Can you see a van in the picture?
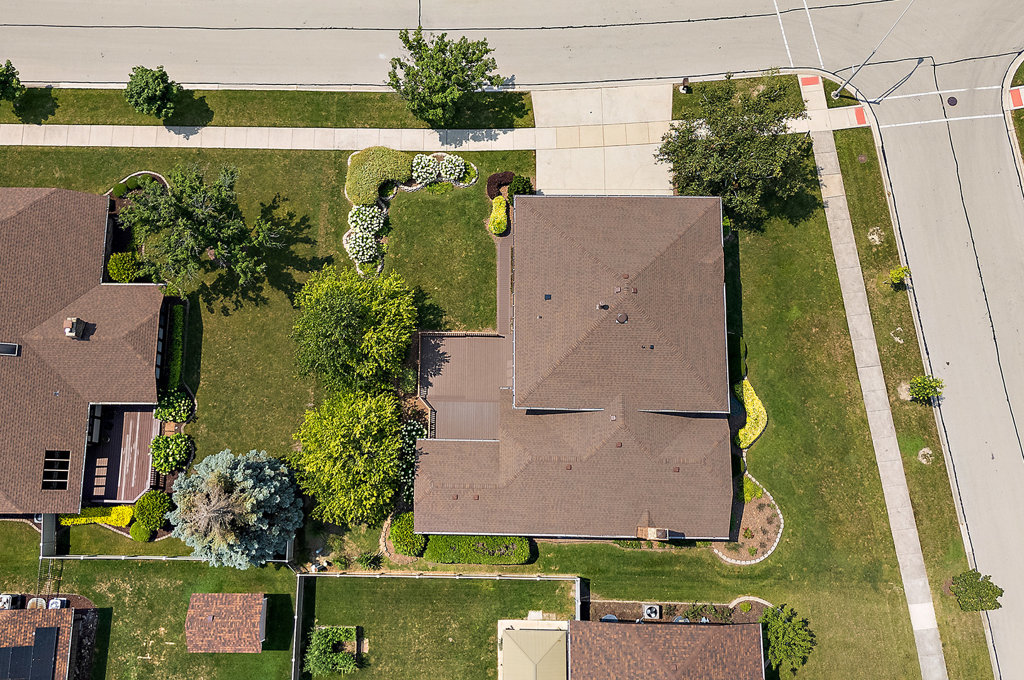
No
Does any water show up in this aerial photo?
No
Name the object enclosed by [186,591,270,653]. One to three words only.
shed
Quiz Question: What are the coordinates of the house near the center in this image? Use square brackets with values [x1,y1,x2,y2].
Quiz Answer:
[414,194,734,540]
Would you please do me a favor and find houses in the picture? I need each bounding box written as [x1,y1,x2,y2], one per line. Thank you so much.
[567,619,766,680]
[0,188,172,513]
[0,607,85,680]
[414,194,734,540]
